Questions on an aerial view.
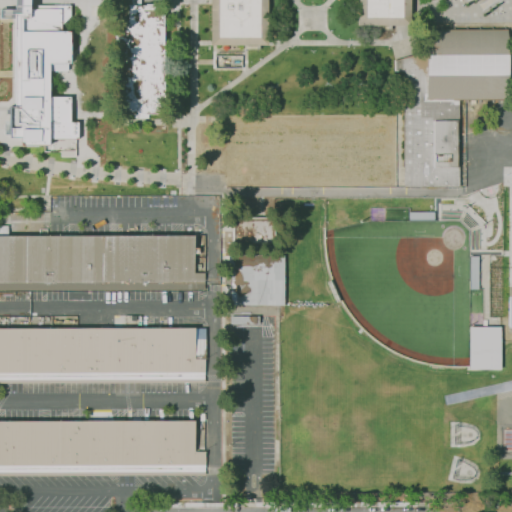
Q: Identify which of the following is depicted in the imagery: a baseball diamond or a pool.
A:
baseball diamond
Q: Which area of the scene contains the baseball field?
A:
right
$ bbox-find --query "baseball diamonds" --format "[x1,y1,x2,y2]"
[323,221,470,370]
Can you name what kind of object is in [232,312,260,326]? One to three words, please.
shed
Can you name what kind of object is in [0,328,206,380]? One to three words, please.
building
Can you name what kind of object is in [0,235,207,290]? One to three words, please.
building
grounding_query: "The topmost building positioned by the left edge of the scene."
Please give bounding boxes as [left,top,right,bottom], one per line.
[12,0,80,158]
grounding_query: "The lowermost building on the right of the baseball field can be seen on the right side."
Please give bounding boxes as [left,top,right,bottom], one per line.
[470,326,503,370]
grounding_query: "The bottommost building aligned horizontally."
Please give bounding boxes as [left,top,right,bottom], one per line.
[0,420,206,472]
